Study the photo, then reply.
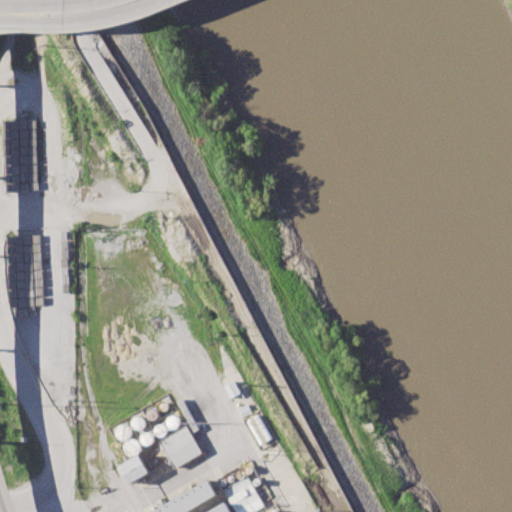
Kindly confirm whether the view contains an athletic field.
No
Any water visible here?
Yes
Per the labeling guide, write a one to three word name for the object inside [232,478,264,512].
building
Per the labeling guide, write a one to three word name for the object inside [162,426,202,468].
building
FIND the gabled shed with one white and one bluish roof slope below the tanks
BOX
[118,456,148,483]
